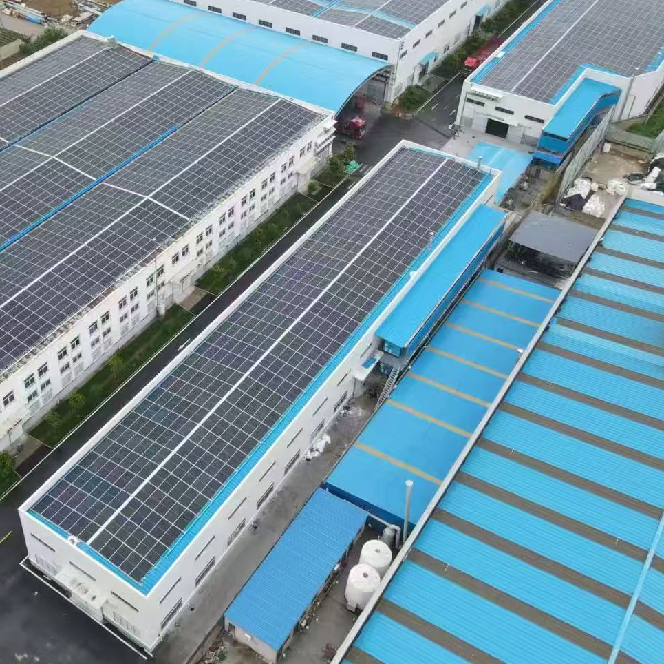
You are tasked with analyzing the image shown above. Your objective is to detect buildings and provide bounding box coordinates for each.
[222,486,365,664]
[17,139,502,658]
[0,30,339,462]
[171,0,505,103]
[455,0,664,147]
[329,193,664,664]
